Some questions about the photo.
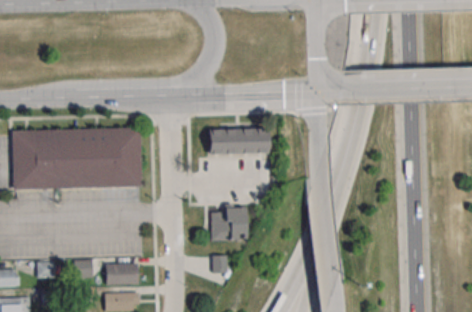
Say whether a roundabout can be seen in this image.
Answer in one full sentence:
No, no roundabout can be seen from above.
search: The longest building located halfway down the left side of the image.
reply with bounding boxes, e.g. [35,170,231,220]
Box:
[13,129,141,188]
